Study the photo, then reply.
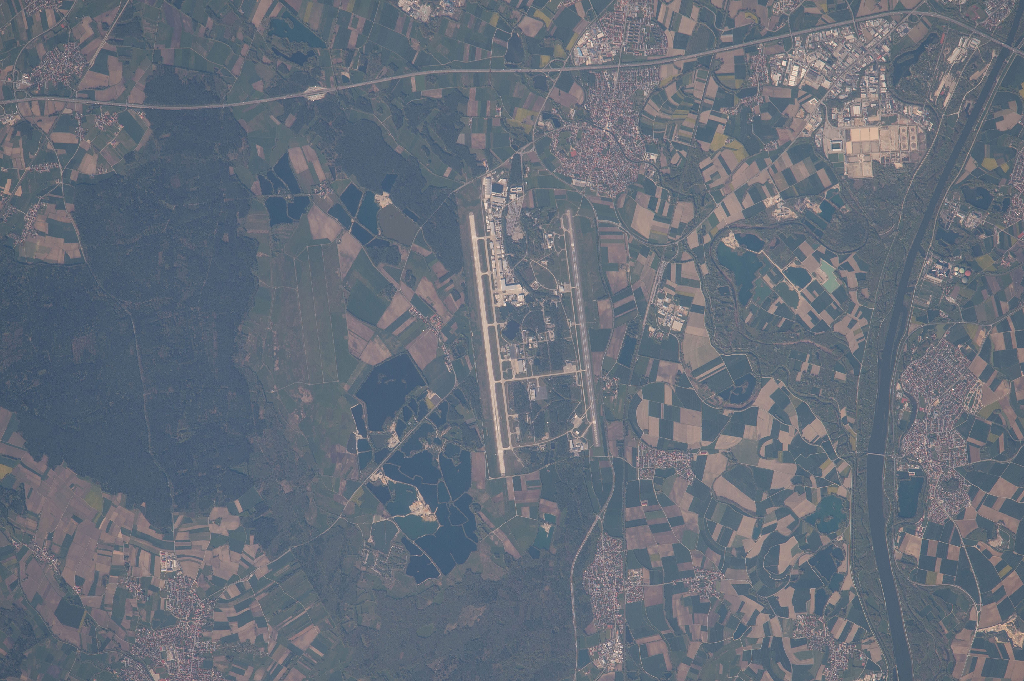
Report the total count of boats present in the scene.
0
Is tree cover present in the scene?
Yes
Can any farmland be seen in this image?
Yes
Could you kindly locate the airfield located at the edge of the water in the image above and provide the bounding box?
[469,172,599,477]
